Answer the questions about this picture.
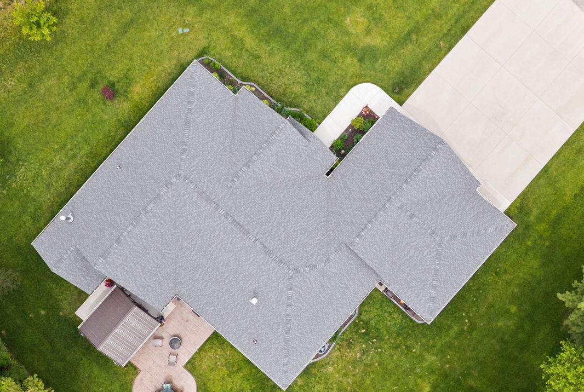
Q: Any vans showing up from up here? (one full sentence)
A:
No, the photo shows no van.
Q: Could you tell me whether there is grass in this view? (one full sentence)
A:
Yes, some grass is visible.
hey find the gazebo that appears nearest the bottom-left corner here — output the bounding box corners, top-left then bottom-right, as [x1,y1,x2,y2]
[78,286,163,367]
